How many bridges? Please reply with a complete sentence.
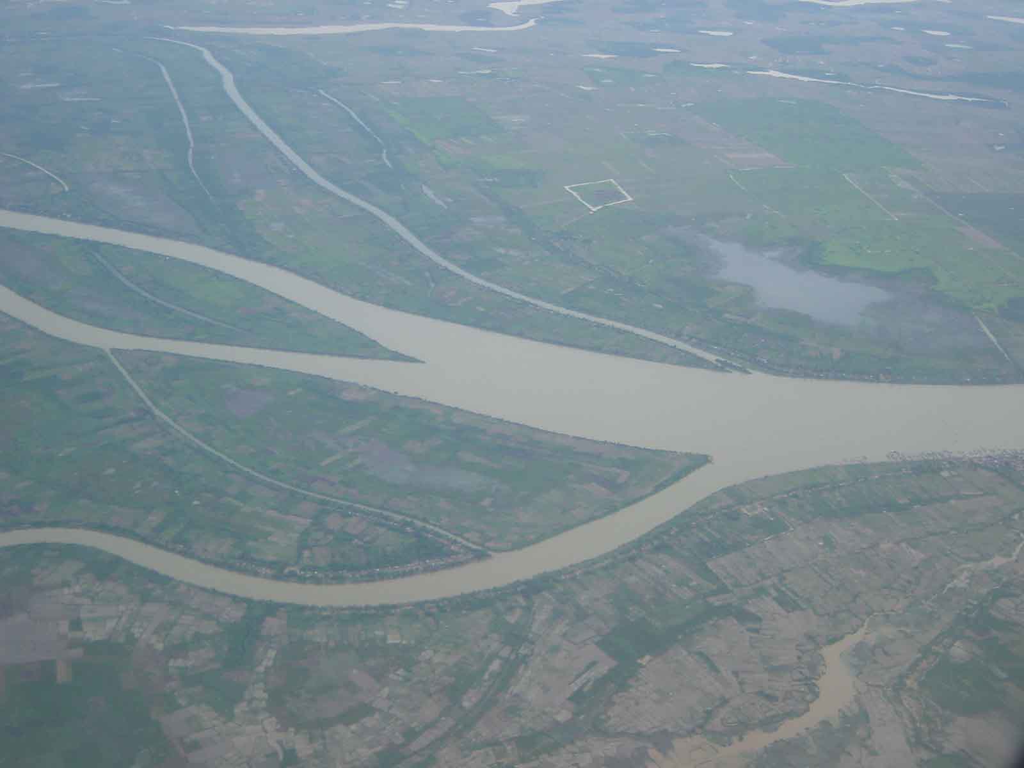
No bridges are visible.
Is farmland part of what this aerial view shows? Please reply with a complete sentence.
Yes, farmland shows up in the scene.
